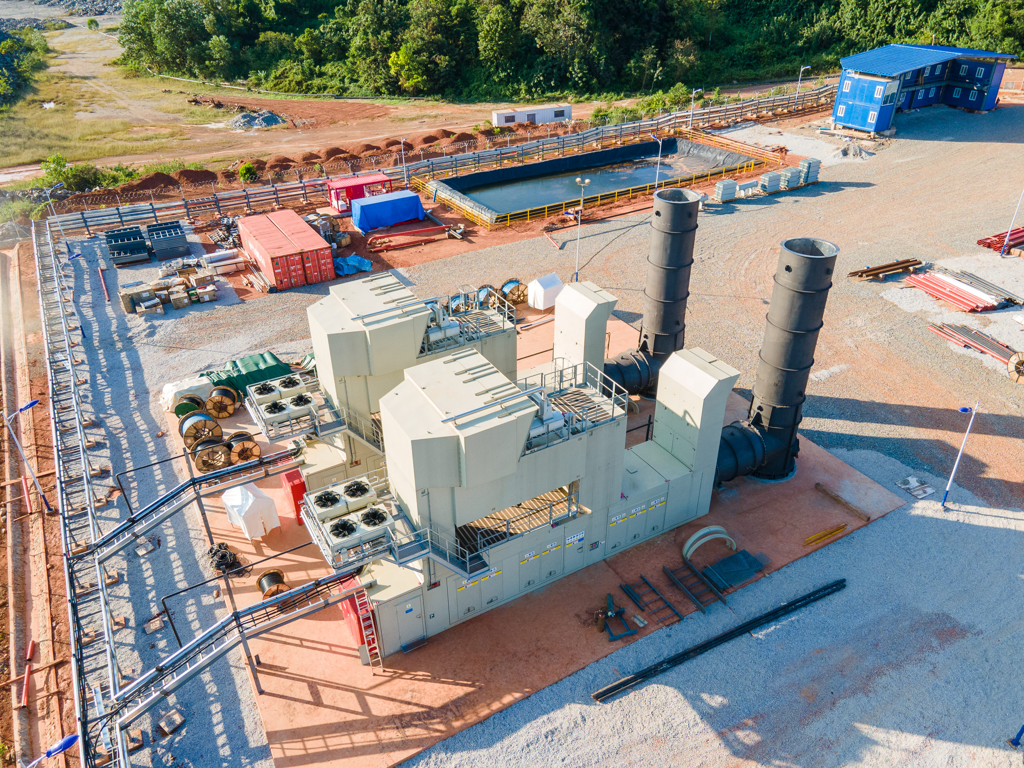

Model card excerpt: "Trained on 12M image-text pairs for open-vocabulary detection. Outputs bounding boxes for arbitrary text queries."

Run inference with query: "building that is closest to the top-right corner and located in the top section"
[829,44,1018,132]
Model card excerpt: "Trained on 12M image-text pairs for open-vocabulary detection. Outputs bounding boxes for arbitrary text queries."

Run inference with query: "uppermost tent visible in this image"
[528,276,562,311]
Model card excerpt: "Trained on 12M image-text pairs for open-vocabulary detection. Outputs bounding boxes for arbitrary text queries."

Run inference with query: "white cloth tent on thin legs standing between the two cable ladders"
[221,479,282,547]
